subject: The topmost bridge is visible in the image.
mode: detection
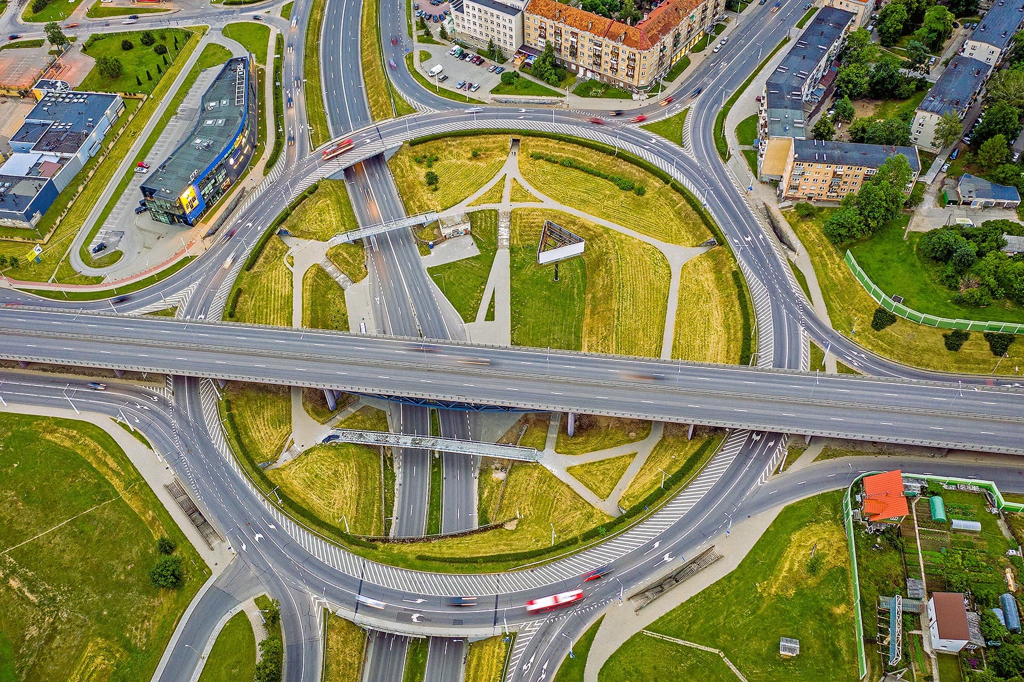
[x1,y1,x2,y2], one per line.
[283,102,417,207]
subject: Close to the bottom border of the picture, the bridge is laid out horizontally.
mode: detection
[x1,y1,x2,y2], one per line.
[330,604,506,682]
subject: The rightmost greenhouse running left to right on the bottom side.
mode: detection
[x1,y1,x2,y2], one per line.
[951,521,983,537]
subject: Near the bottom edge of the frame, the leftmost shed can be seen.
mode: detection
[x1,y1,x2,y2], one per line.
[781,638,799,659]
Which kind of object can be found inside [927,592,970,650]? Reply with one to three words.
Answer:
house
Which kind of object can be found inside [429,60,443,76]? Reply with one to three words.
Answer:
vehicle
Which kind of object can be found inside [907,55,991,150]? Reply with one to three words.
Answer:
building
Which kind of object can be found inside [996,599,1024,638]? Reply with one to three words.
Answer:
greenhouse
